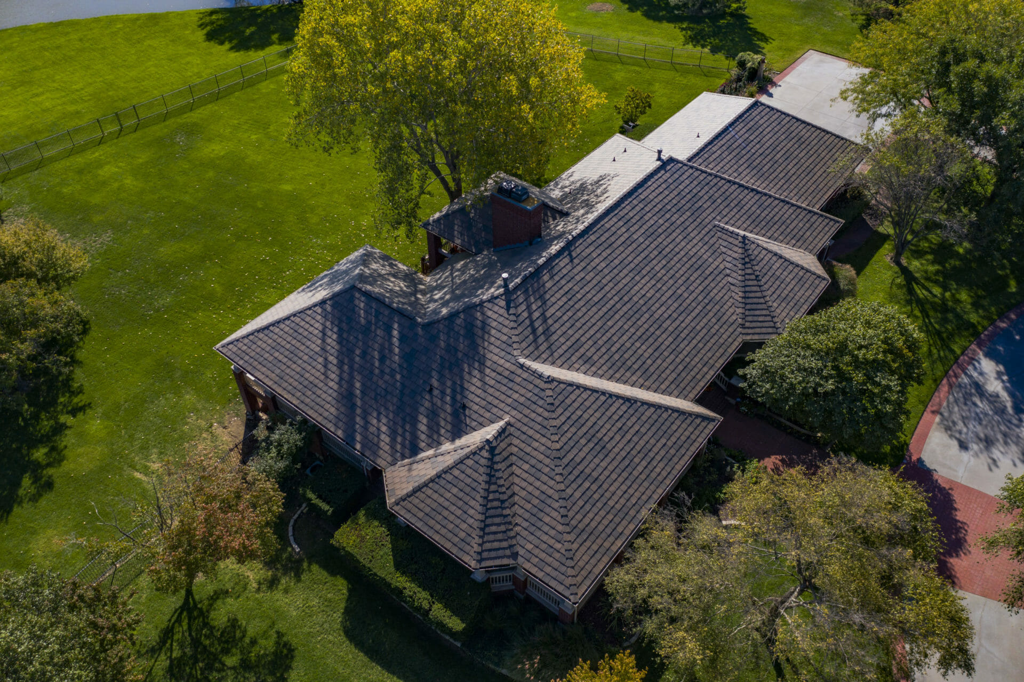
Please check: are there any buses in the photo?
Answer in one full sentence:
No, the photo shows no bus.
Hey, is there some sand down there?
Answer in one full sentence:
No, the picture contains no sand.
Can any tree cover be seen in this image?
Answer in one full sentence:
Yes, tree cover shows up in the scene.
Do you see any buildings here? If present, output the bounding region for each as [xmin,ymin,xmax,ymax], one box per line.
[210,91,877,640]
